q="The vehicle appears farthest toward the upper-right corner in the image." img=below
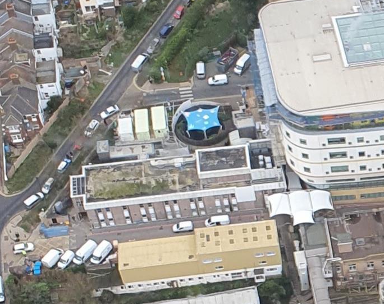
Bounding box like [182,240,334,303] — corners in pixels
[235,52,250,72]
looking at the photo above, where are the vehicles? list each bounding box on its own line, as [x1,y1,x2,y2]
[196,64,205,77]
[91,238,112,262]
[83,121,99,136]
[208,214,227,226]
[14,244,33,254]
[74,238,95,262]
[172,7,184,19]
[21,191,46,209]
[210,74,227,86]
[57,158,74,172]
[101,105,120,117]
[173,219,193,232]
[41,246,65,268]
[41,178,55,193]
[235,52,250,72]
[147,41,160,52]
[57,249,76,268]
[131,54,149,70]
[159,24,174,37]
